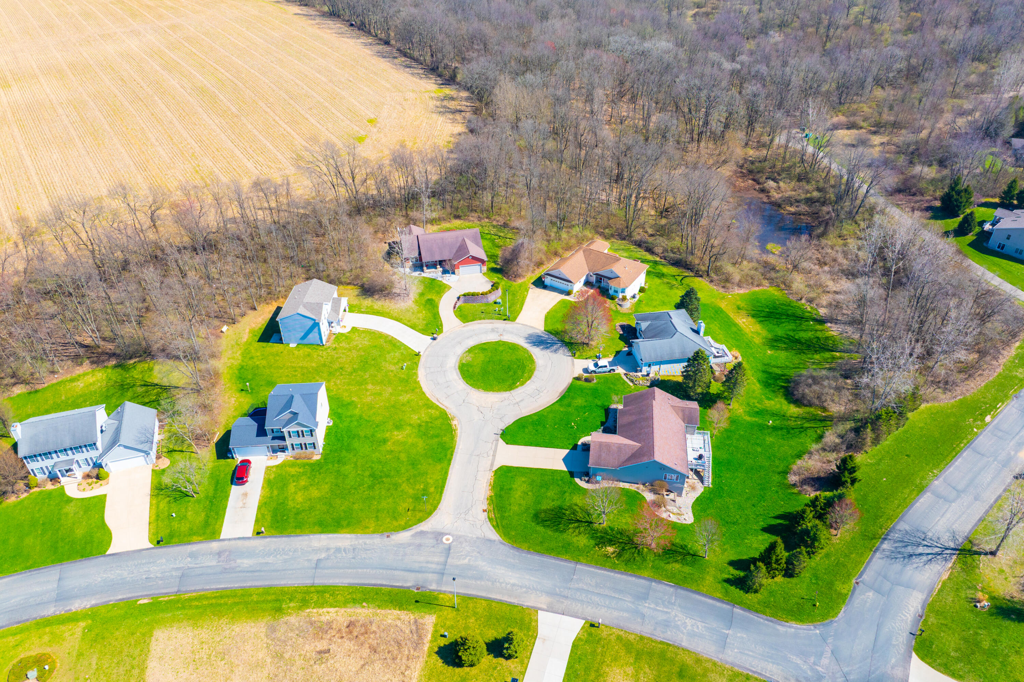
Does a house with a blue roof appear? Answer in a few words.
Yes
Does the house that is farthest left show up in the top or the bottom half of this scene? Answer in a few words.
bottom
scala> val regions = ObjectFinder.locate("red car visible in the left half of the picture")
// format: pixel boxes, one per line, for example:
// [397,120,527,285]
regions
[233,459,250,484]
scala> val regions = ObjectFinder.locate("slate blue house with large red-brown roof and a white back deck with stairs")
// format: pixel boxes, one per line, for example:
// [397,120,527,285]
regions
[589,387,712,495]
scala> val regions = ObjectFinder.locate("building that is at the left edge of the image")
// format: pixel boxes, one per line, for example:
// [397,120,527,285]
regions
[10,401,159,486]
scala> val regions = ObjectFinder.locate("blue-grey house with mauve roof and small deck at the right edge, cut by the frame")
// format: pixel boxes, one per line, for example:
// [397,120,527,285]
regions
[978,207,1024,260]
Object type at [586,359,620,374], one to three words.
vehicle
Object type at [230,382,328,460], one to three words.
house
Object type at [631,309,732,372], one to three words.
house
